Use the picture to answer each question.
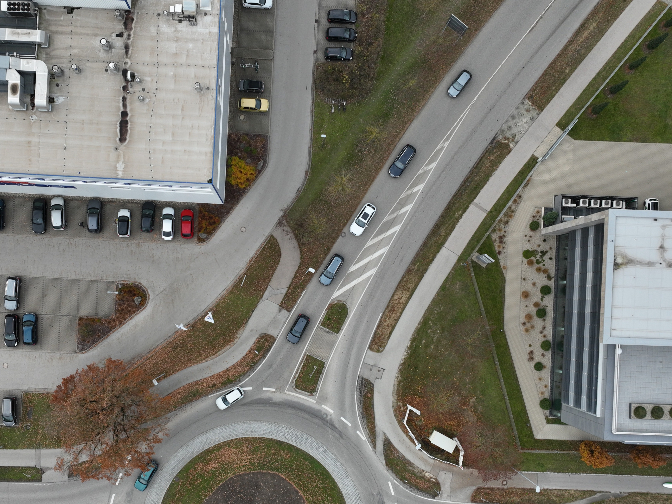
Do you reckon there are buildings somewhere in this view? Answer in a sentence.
Yes, there is a building in the image.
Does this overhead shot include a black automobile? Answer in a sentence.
Yes, there is a black automobile in the image.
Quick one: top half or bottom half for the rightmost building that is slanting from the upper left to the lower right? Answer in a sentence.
The rightmost building that is slanting from the upper left to the lower right is in the bottom half of the image.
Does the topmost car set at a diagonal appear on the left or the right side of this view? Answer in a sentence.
The topmost car set at a diagonal sits on the right side.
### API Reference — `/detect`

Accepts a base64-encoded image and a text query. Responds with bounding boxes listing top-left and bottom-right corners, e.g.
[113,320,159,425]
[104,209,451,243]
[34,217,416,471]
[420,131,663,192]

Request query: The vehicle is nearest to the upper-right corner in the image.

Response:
[643,198,660,211]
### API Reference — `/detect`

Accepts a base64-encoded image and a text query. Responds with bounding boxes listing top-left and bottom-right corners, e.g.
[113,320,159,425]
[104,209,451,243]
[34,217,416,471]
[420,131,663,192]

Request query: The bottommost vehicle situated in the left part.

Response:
[134,458,159,491]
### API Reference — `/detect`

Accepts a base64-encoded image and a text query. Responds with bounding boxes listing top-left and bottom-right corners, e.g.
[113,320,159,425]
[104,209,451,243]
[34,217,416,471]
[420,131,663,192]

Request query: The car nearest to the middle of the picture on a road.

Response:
[320,253,344,286]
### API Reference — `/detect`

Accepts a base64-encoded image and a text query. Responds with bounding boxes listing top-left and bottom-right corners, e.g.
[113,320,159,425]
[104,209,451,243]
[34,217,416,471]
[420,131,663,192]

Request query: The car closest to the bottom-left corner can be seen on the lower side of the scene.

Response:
[1,396,19,426]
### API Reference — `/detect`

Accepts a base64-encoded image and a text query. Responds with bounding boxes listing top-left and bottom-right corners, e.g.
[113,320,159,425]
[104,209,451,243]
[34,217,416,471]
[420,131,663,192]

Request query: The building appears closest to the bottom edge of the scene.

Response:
[427,428,457,453]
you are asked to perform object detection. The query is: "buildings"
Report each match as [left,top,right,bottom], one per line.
[427,428,457,453]
[0,0,233,204]
[541,207,672,446]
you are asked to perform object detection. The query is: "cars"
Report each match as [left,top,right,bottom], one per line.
[320,253,344,286]
[326,26,357,43]
[238,96,269,113]
[447,69,473,100]
[643,198,660,211]
[49,198,66,231]
[239,78,265,94]
[287,313,310,344]
[179,209,195,239]
[390,143,415,179]
[1,396,19,426]
[4,277,21,310]
[324,45,353,62]
[134,458,159,491]
[216,386,244,409]
[116,210,131,237]
[21,314,38,344]
[140,202,155,232]
[0,200,5,229]
[327,7,357,25]
[243,0,273,9]
[3,314,20,347]
[351,202,376,237]
[31,200,48,233]
[160,207,176,240]
[86,201,103,233]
